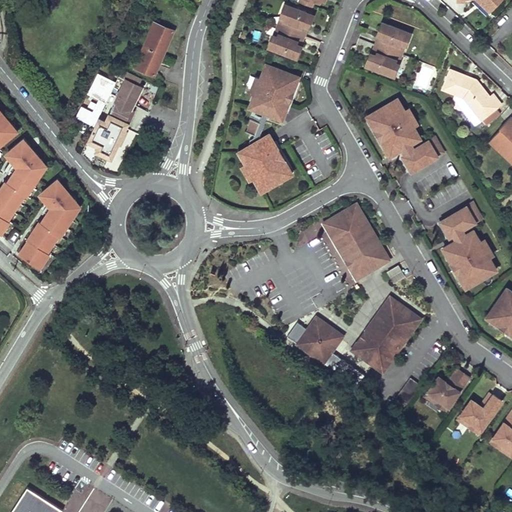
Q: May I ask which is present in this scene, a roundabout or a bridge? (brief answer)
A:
roundabout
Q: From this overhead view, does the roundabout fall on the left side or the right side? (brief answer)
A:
left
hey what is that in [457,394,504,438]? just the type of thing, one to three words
house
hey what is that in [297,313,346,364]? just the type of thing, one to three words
building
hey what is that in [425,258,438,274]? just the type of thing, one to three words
vehicle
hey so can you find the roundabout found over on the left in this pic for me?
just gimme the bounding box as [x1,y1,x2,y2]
[110,176,204,270]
